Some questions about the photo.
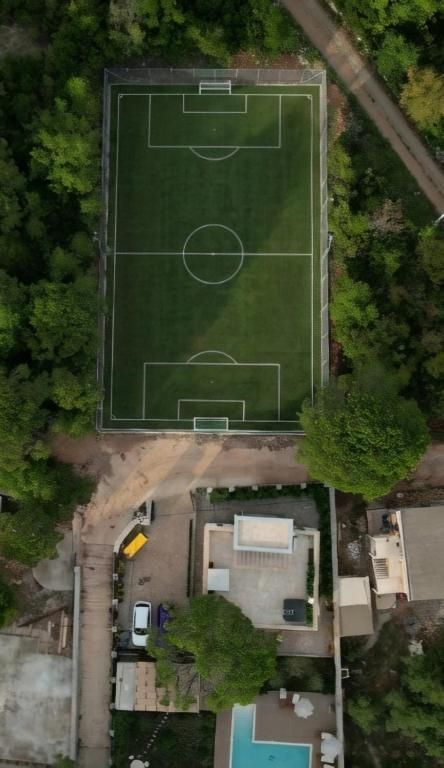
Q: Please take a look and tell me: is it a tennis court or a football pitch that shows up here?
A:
football pitch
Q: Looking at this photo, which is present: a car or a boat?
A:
car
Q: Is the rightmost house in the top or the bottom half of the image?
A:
bottom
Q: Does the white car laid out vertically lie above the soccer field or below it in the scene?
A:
below it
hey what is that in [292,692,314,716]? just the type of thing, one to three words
umbrella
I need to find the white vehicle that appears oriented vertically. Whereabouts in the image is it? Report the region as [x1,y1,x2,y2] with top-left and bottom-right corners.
[129,599,153,646]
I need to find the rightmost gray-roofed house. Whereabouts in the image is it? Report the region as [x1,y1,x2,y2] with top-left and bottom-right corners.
[362,500,444,610]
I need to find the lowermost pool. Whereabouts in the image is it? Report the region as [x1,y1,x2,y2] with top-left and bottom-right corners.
[229,699,315,768]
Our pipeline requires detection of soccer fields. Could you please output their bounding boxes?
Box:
[102,85,320,430]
